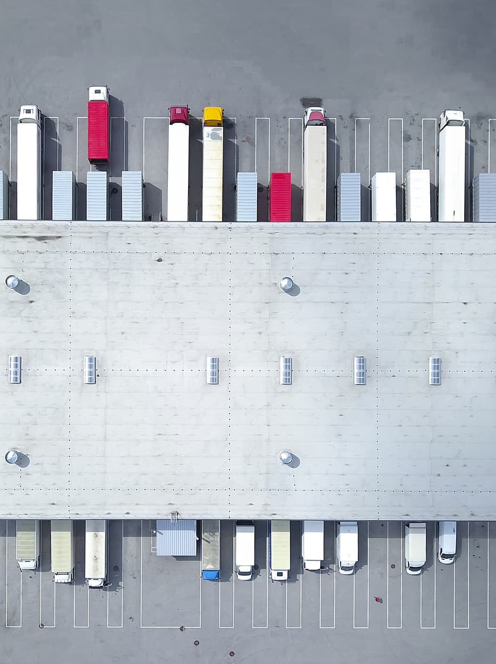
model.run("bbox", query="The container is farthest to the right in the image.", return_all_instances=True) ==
[468,173,496,222]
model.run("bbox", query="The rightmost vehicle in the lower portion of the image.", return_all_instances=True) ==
[434,523,456,563]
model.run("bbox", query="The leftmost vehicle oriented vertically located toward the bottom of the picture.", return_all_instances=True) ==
[16,521,41,573]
